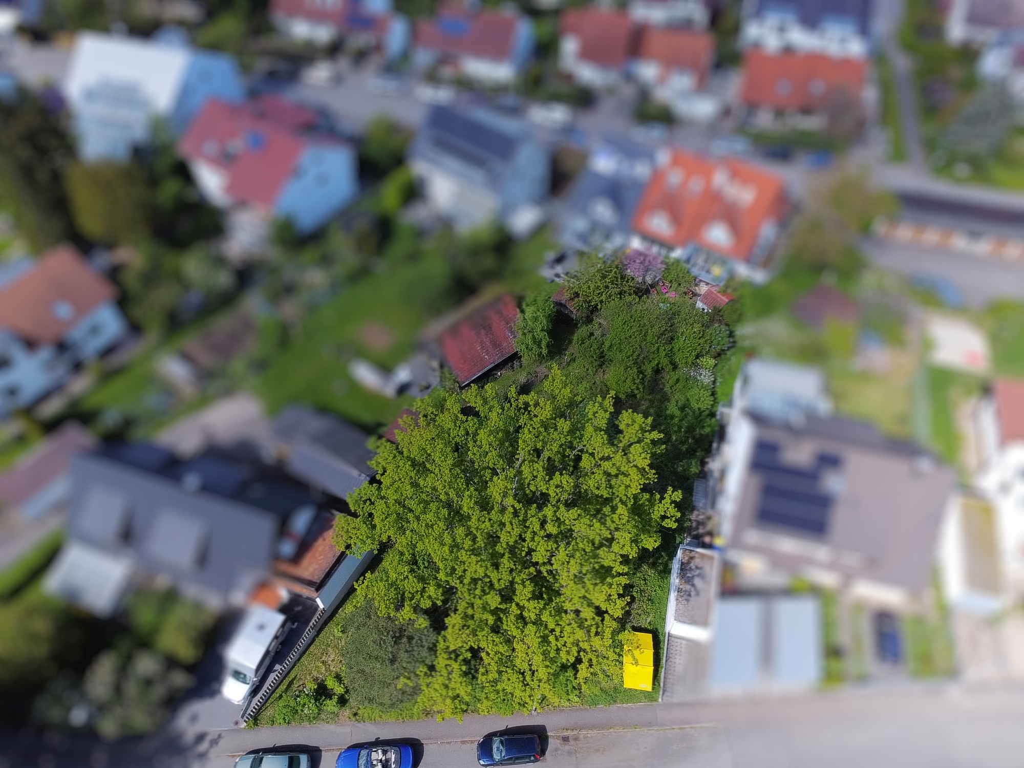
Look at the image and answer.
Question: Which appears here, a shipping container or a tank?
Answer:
shipping container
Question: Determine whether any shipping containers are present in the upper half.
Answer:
No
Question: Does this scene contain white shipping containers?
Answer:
No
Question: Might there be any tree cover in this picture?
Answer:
Yes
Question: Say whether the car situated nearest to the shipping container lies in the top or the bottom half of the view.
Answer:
bottom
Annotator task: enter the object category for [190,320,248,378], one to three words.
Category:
shed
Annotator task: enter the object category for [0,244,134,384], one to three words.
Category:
house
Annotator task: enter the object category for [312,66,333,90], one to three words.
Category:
car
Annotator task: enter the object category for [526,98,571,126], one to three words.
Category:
car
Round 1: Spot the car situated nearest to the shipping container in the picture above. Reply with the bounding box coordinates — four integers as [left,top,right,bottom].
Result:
[475,733,543,768]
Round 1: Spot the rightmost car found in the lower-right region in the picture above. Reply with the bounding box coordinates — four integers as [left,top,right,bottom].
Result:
[872,614,909,675]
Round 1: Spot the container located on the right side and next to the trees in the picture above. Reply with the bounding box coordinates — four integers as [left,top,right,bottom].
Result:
[621,634,659,691]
